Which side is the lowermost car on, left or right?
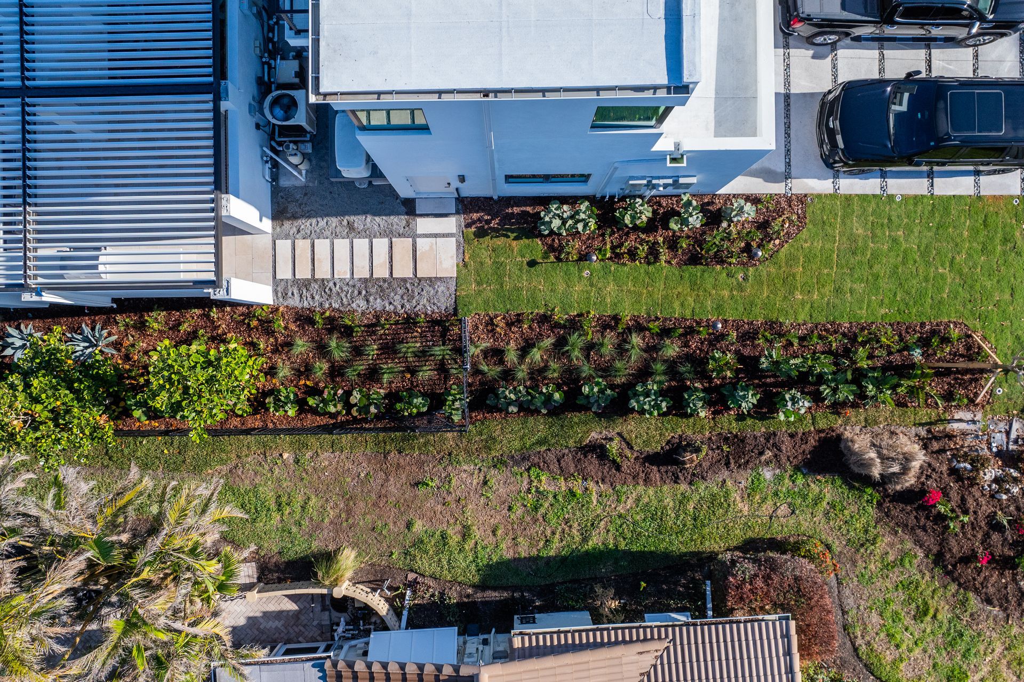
right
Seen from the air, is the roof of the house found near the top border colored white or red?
white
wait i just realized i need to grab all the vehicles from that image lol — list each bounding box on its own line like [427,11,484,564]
[775,0,1024,41]
[815,66,1024,172]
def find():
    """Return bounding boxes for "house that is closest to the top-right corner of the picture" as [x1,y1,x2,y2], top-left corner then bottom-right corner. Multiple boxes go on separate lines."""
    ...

[307,0,774,201]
